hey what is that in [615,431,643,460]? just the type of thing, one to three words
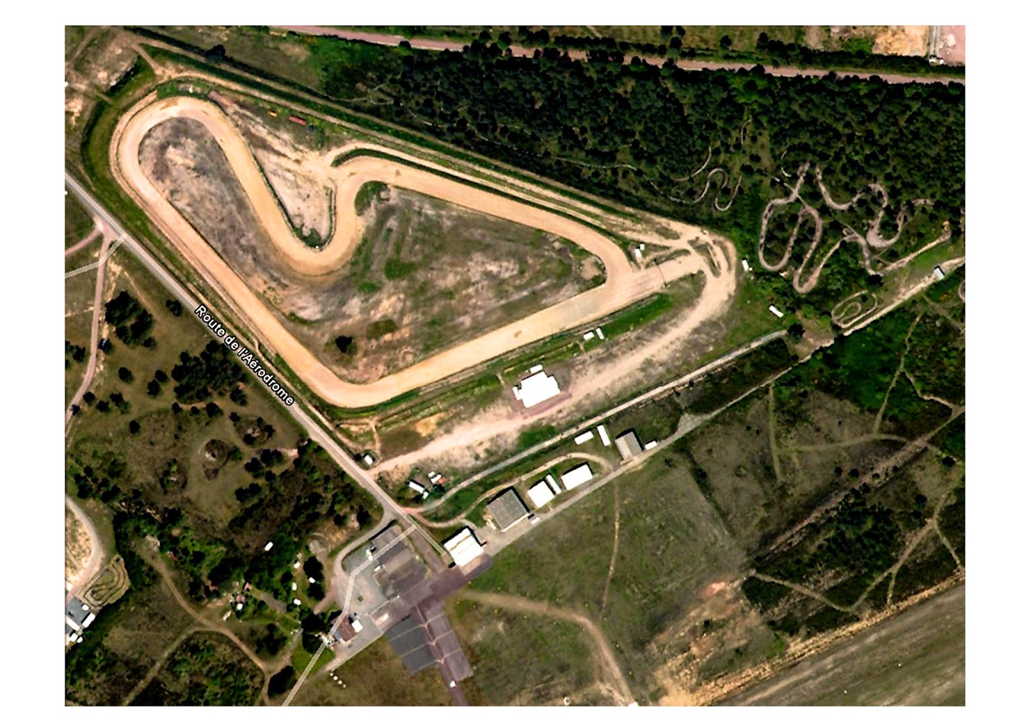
building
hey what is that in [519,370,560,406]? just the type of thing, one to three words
building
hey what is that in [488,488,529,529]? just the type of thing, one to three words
hangar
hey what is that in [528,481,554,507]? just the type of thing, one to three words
hangar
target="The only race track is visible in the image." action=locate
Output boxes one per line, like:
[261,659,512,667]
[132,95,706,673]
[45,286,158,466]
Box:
[117,96,639,408]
